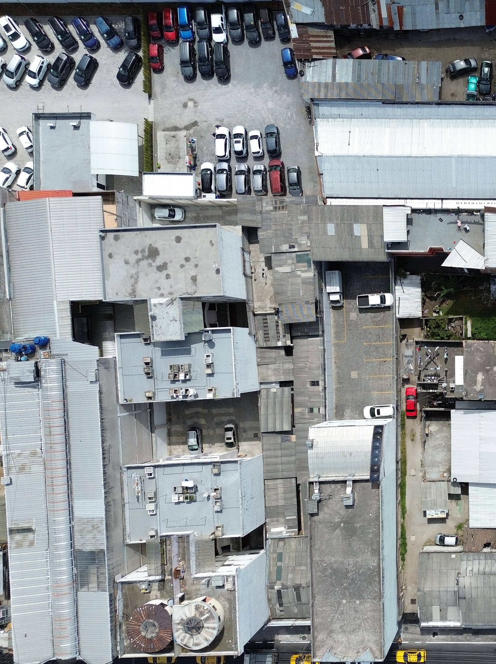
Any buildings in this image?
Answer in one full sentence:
Yes, a building can be made out from above.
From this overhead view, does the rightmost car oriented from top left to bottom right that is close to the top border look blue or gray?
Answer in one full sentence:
The color of the rightmost car oriented from top left to bottom right that is close to the top border is blue.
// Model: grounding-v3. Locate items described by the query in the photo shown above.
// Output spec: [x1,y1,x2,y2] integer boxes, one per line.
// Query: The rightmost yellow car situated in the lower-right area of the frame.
[397,649,426,664]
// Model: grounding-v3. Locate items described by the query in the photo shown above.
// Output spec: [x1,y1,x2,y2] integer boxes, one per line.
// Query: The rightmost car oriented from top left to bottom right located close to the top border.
[94,14,122,50]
